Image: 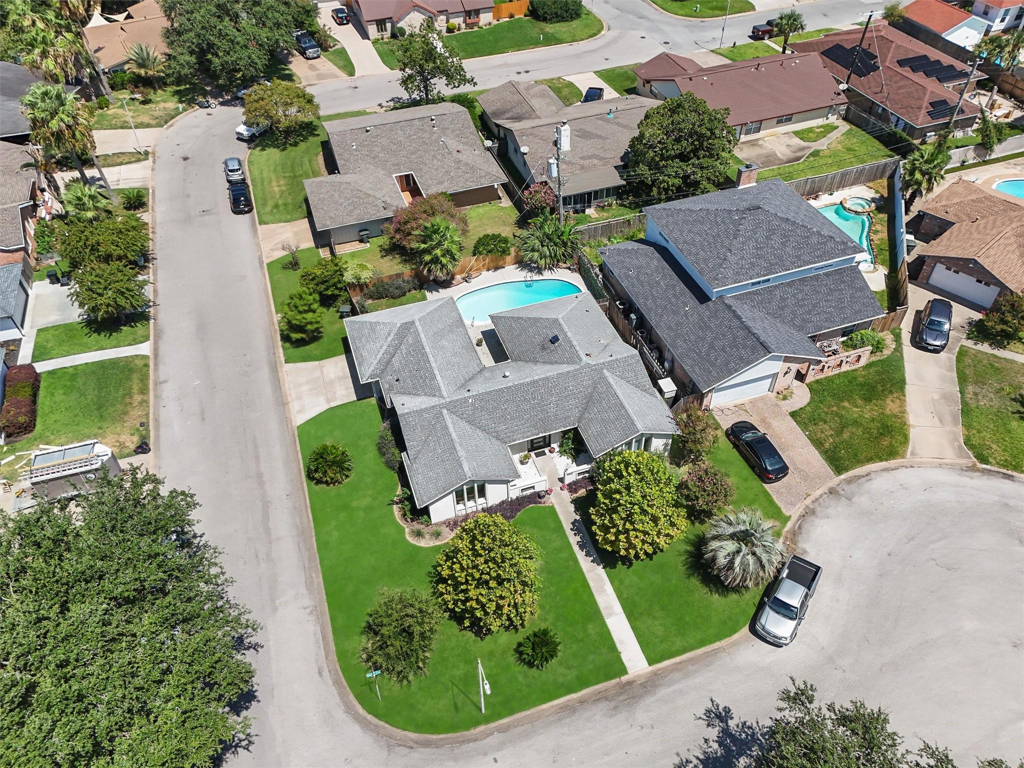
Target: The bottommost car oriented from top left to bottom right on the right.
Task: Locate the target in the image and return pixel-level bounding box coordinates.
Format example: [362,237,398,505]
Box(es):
[728,422,789,483]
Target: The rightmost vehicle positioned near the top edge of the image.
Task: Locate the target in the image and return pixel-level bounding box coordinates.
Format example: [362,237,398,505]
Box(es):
[749,21,787,40]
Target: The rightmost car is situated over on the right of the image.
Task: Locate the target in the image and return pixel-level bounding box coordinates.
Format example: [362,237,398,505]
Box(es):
[915,294,960,352]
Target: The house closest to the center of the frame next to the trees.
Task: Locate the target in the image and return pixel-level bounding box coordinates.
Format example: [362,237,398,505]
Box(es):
[342,291,682,520]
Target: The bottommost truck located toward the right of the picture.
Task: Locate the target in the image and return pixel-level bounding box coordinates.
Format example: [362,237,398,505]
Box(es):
[756,556,820,649]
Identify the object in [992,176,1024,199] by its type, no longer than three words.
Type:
swimming pool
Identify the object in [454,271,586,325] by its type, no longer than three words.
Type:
swimming pool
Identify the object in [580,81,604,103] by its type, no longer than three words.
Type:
car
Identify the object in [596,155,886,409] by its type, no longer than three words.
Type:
house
